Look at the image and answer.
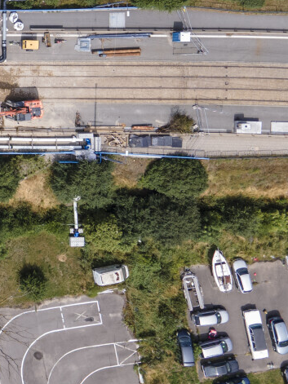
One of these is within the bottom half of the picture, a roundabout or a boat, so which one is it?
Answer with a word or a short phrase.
boat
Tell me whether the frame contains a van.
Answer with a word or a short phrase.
Yes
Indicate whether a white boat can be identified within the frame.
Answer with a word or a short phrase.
Yes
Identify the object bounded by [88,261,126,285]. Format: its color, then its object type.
white camper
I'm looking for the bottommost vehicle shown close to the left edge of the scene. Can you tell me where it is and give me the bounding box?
[0,98,46,123]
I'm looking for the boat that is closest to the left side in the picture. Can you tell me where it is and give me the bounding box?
[181,264,204,312]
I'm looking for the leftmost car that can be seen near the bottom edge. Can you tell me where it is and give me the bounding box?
[174,329,197,368]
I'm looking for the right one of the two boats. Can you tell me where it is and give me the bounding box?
[210,244,233,293]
